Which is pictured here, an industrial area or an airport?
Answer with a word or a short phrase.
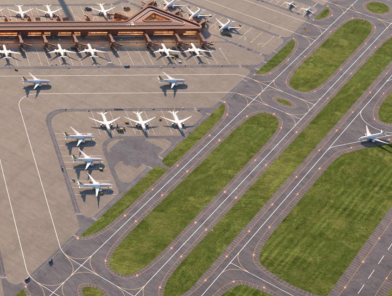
airport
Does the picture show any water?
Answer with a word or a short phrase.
No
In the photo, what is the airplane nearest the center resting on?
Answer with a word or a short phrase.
apron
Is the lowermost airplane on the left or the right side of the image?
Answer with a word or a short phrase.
left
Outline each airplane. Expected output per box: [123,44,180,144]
[39,5,59,18]
[217,16,235,31]
[186,43,206,57]
[125,108,155,131]
[156,71,185,87]
[162,109,191,130]
[155,43,182,58]
[90,3,113,17]
[9,3,32,19]
[0,44,18,59]
[282,1,296,8]
[78,173,112,195]
[81,43,105,58]
[91,108,117,131]
[299,8,314,13]
[163,0,179,10]
[70,147,102,168]
[21,72,50,88]
[48,44,72,58]
[62,126,93,145]
[359,125,389,143]
[188,4,204,19]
